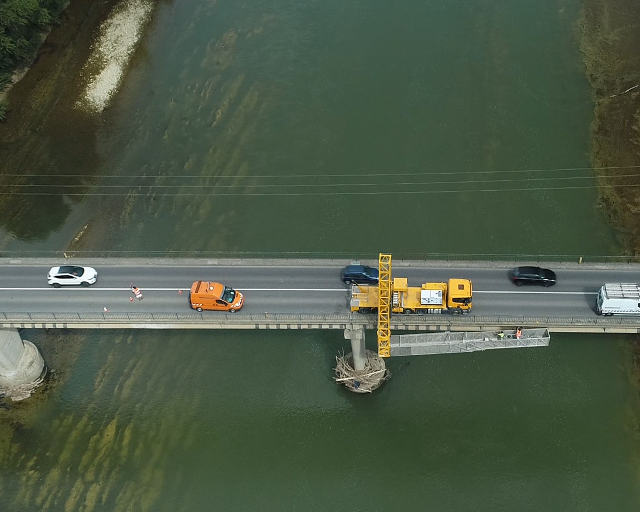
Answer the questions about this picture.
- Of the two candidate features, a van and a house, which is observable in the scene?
van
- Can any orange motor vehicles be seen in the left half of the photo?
Yes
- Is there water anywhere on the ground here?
Yes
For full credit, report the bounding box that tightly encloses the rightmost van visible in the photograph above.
[594,277,640,315]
